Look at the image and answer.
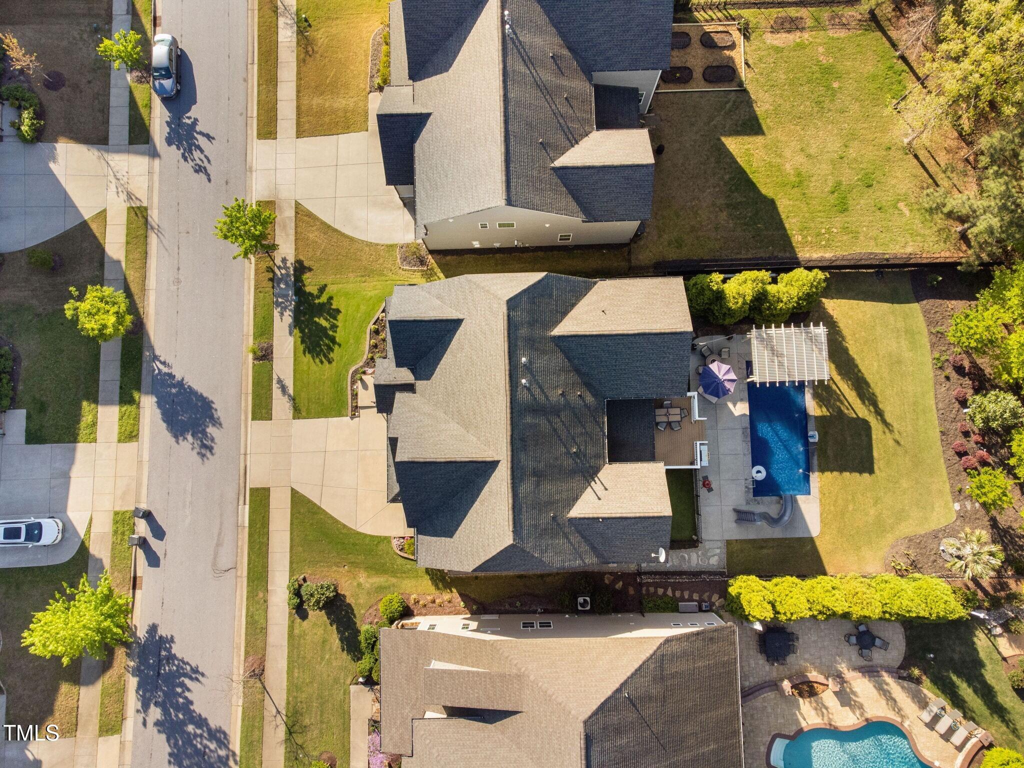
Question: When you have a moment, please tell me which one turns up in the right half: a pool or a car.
pool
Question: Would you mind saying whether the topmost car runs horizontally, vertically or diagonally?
vertically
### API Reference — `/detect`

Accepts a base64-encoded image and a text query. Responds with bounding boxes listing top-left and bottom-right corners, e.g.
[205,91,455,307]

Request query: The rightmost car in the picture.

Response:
[148,31,181,96]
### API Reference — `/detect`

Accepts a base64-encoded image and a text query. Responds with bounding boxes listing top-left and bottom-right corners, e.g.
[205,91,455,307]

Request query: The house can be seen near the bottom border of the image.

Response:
[370,612,744,768]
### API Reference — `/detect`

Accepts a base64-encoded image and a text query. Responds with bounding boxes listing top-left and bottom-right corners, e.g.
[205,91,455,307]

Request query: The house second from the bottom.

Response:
[374,273,693,571]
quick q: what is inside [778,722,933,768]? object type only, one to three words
swimming pool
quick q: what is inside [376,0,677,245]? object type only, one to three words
house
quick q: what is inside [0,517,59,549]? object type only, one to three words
car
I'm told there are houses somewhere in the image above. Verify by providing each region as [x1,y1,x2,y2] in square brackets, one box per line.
[376,0,677,245]
[374,273,693,571]
[370,612,744,768]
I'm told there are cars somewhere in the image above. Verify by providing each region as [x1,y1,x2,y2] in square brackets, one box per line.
[148,31,181,96]
[0,517,59,549]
